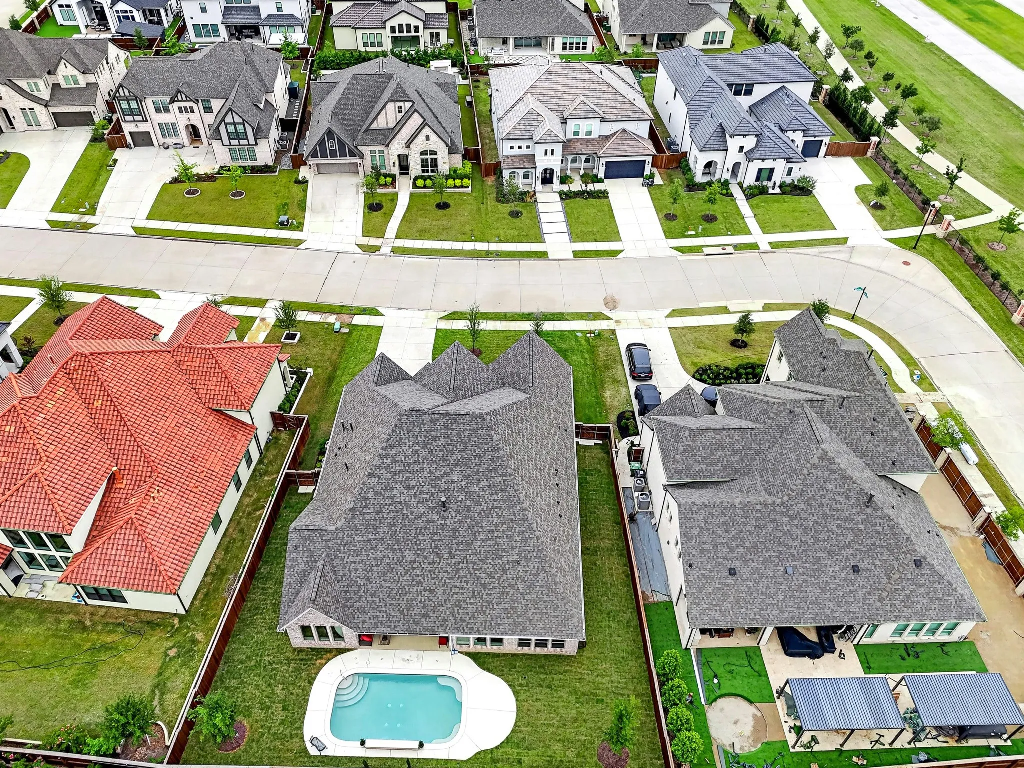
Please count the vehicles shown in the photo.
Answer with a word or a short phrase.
3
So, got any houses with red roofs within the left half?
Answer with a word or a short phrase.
Yes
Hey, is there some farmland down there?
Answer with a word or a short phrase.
No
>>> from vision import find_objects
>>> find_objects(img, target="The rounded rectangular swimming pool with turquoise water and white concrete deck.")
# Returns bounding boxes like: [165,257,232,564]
[304,652,517,760]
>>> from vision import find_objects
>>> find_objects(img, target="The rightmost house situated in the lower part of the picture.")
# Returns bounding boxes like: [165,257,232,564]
[641,308,989,656]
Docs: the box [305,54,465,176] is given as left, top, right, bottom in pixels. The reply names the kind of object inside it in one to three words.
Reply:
house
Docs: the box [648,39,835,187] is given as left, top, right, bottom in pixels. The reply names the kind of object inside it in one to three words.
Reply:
house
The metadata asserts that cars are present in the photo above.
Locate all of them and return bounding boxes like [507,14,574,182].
[695,380,724,405]
[625,344,657,386]
[634,392,663,435]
